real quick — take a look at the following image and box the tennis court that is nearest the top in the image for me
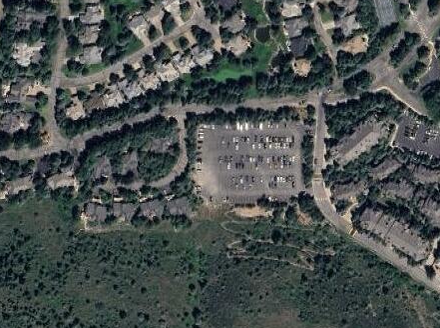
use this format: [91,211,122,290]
[374,0,398,25]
